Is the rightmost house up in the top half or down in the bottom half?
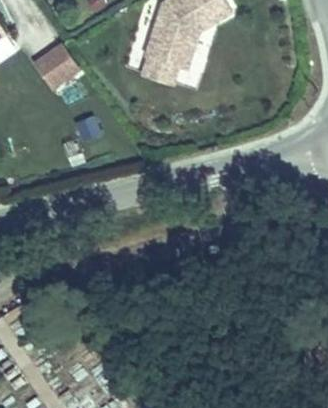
top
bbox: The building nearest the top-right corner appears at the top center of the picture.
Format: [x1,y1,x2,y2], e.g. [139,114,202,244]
[126,0,238,88]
